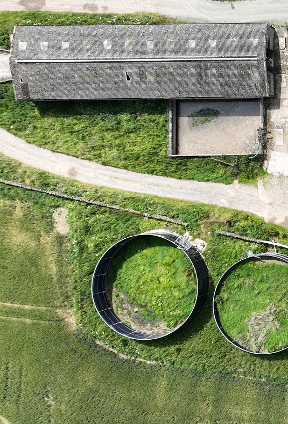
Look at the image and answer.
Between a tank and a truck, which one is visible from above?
tank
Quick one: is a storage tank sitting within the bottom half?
Yes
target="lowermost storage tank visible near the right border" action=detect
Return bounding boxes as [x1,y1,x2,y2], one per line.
[212,245,288,355]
